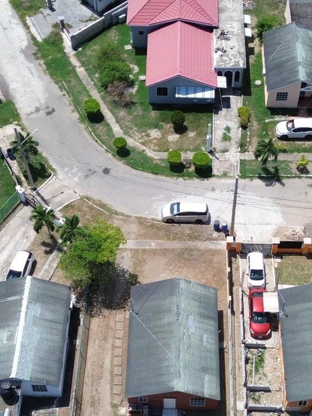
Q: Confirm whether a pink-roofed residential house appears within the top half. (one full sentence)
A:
Yes, there is a pink-roofed residential house within the top half.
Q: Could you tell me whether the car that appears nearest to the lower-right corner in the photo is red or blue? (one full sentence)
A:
In this view, the car that appears nearest to the lower-right corner is red.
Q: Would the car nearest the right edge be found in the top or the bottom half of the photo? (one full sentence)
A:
You can find the car nearest the right edge in the top half.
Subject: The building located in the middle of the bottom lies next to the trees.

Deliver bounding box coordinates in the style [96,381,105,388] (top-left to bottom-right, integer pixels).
[127,275,219,416]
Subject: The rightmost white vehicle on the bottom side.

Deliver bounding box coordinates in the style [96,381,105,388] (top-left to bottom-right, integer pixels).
[245,251,269,294]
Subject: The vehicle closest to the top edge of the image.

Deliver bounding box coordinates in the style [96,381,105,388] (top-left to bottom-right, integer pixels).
[275,120,312,142]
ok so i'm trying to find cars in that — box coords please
[161,203,211,226]
[2,245,37,282]
[249,294,274,343]
[275,120,312,142]
[245,251,269,294]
